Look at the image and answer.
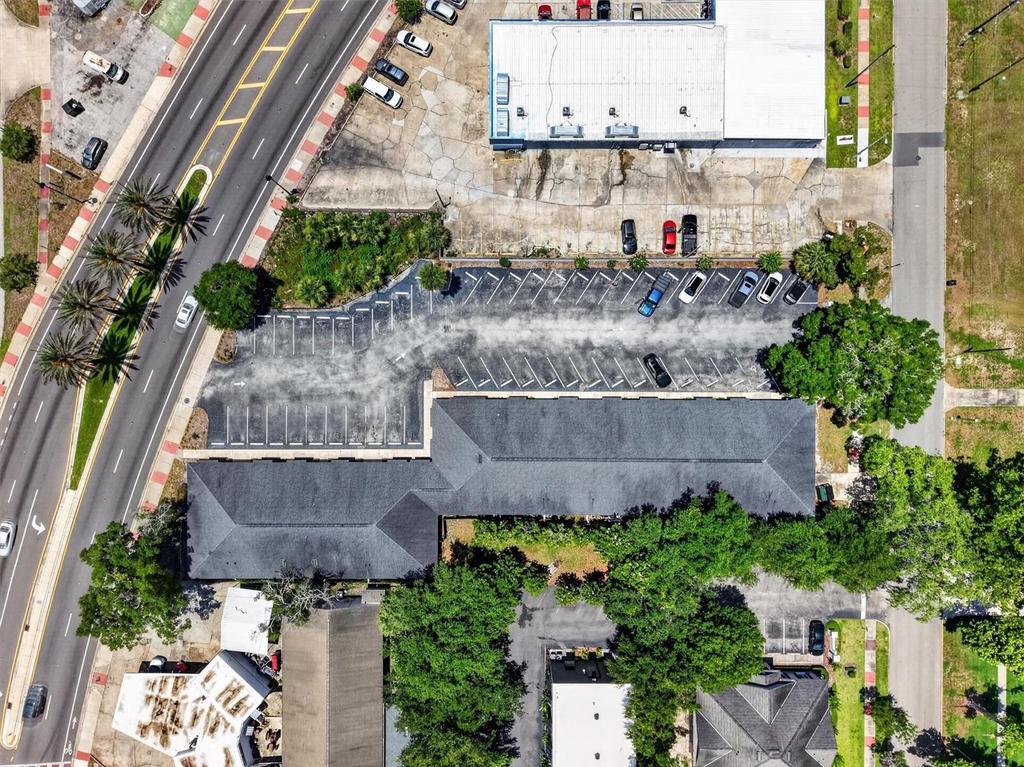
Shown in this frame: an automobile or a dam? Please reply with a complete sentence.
It is an automobile that can be seen here.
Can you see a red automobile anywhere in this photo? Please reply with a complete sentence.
Yes, the frame does contain a red automobile.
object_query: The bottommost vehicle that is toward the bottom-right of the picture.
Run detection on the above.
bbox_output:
[807,619,826,655]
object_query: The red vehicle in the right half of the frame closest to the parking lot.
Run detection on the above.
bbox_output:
[661,221,678,255]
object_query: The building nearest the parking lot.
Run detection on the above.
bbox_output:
[181,395,816,580]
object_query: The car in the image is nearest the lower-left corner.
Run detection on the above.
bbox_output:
[22,681,49,723]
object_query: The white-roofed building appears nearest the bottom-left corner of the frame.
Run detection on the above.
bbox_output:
[111,650,273,767]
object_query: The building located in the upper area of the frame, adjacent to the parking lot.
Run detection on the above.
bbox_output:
[489,0,825,152]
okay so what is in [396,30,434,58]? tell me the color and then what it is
white car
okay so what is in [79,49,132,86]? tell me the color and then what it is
white van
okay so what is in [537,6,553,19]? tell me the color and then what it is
red vehicle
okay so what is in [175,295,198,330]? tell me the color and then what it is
white car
